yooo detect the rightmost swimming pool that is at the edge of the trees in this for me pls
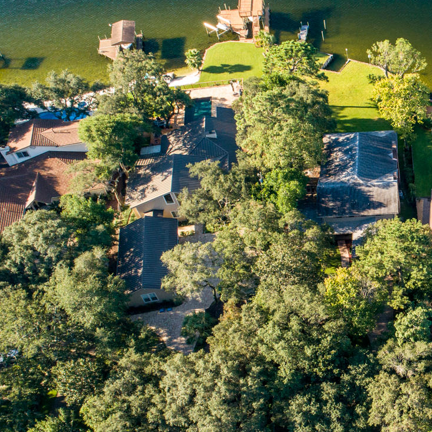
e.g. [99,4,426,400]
[183,96,213,123]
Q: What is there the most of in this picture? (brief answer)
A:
trees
